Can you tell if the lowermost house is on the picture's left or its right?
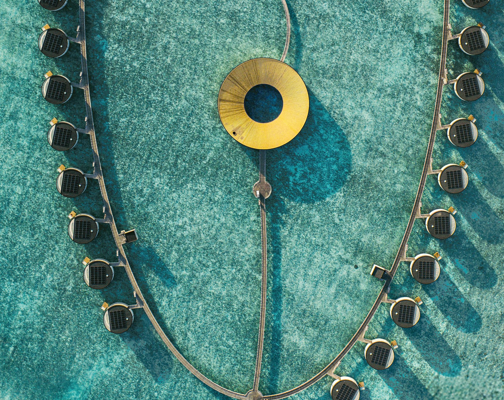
right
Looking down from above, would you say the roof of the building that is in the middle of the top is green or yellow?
yellow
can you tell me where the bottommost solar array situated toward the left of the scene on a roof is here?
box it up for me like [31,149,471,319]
[111,309,126,327]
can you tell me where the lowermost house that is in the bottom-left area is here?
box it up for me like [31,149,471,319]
[102,299,134,332]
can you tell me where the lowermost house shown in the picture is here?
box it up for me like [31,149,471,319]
[331,375,366,400]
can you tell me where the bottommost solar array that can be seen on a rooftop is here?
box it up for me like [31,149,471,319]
[335,382,355,400]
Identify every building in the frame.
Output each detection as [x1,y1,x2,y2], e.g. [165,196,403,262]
[437,158,467,192]
[424,203,457,237]
[458,20,488,53]
[390,295,423,327]
[409,250,442,283]
[39,22,69,57]
[446,112,477,146]
[120,229,138,244]
[461,0,488,8]
[371,265,390,281]
[43,68,73,103]
[364,336,399,369]
[68,208,99,243]
[331,375,366,400]
[82,254,114,288]
[57,162,88,195]
[49,117,79,150]
[39,0,68,9]
[217,58,310,149]
[102,299,134,332]
[453,66,484,99]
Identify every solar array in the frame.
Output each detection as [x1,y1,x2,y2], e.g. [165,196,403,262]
[461,75,479,95]
[418,259,432,277]
[445,169,461,187]
[44,32,62,52]
[111,309,126,327]
[76,218,91,237]
[371,343,388,364]
[49,79,65,98]
[54,126,71,146]
[433,214,447,231]
[64,172,80,191]
[465,29,483,50]
[398,303,414,321]
[335,382,355,400]
[454,121,470,141]
[91,265,105,282]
